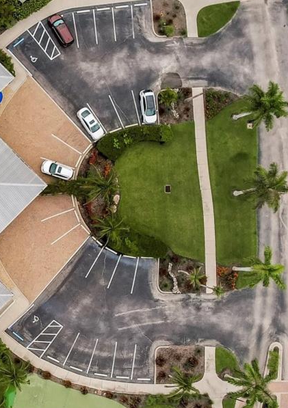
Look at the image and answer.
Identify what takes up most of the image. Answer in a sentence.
The scene is dominated by paved ground.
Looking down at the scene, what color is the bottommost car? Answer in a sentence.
The bottommost car is white.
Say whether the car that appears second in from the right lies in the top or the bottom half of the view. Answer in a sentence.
You can find the car that appears second in from the right in the top half.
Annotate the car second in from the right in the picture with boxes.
[78,106,105,140]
